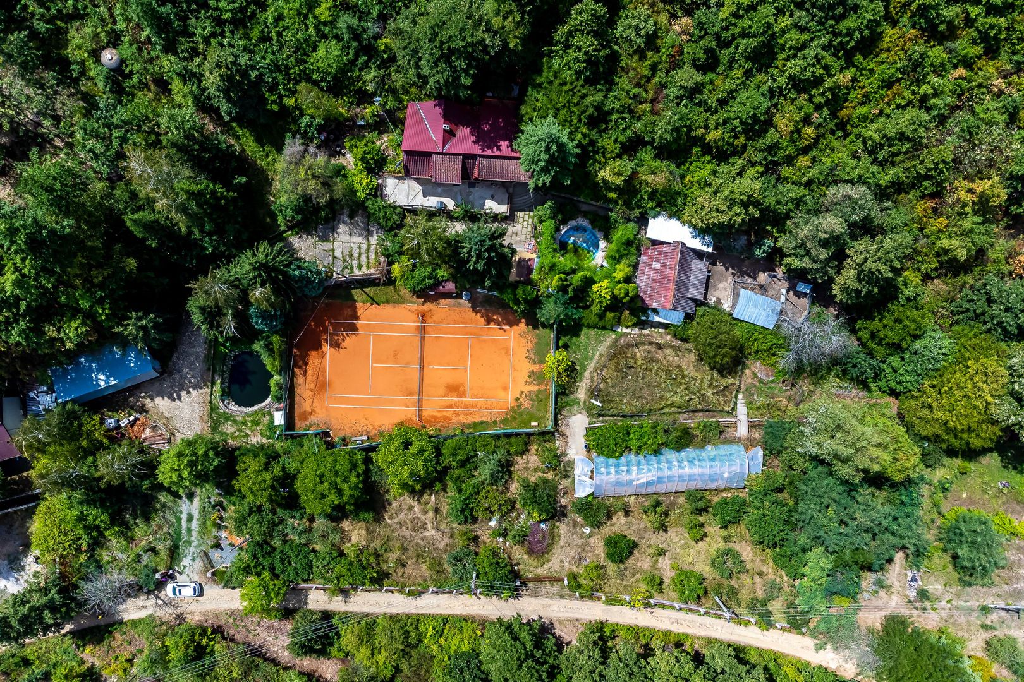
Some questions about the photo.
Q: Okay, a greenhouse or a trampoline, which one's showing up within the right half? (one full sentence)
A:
There is a greenhouse within the right half.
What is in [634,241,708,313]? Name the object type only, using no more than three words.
barn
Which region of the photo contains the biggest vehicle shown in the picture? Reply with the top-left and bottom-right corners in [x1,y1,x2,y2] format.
[164,582,201,601]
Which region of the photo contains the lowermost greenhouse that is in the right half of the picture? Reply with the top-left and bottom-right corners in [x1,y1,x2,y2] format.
[575,443,762,497]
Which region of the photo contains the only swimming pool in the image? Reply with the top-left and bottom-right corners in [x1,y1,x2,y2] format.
[554,217,611,270]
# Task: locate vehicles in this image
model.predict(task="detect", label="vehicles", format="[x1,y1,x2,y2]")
[164,582,201,601]
[157,573,176,583]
